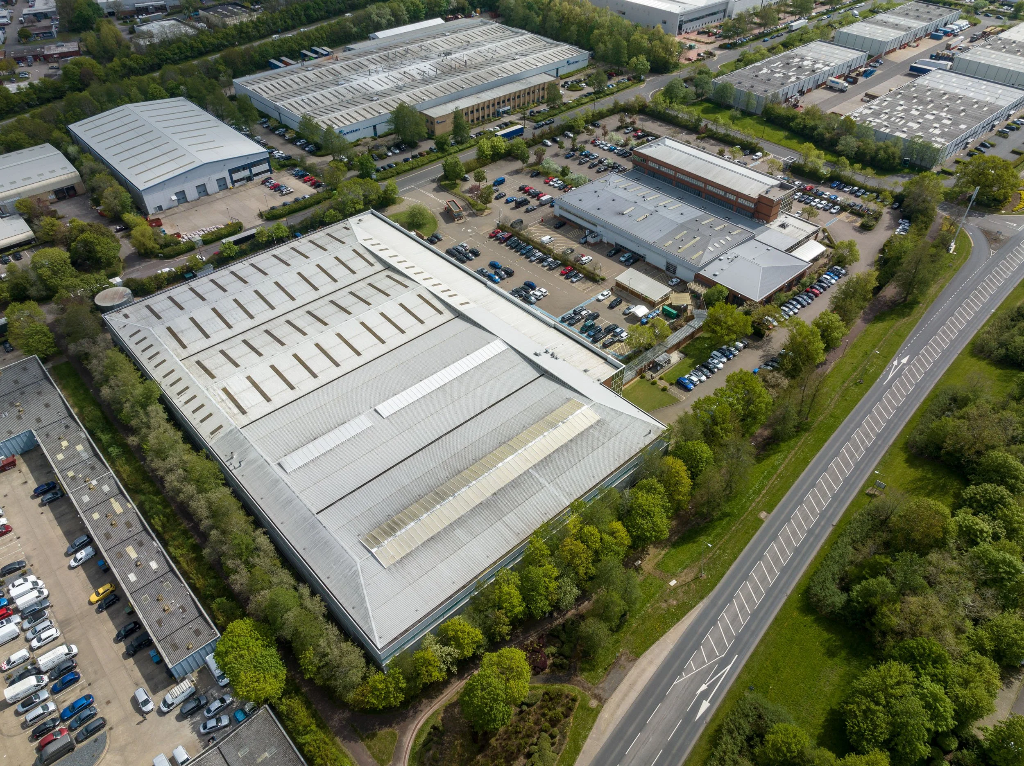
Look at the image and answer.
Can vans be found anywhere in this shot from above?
Yes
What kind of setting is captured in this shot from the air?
industrial area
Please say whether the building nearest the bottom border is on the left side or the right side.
left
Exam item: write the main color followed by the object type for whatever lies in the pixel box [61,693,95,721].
blue car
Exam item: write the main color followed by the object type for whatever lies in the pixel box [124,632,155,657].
black car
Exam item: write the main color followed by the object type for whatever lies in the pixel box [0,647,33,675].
white van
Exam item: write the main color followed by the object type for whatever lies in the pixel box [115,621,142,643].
black car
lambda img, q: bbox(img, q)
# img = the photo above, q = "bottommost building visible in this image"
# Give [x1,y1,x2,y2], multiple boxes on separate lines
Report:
[186,706,306,766]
